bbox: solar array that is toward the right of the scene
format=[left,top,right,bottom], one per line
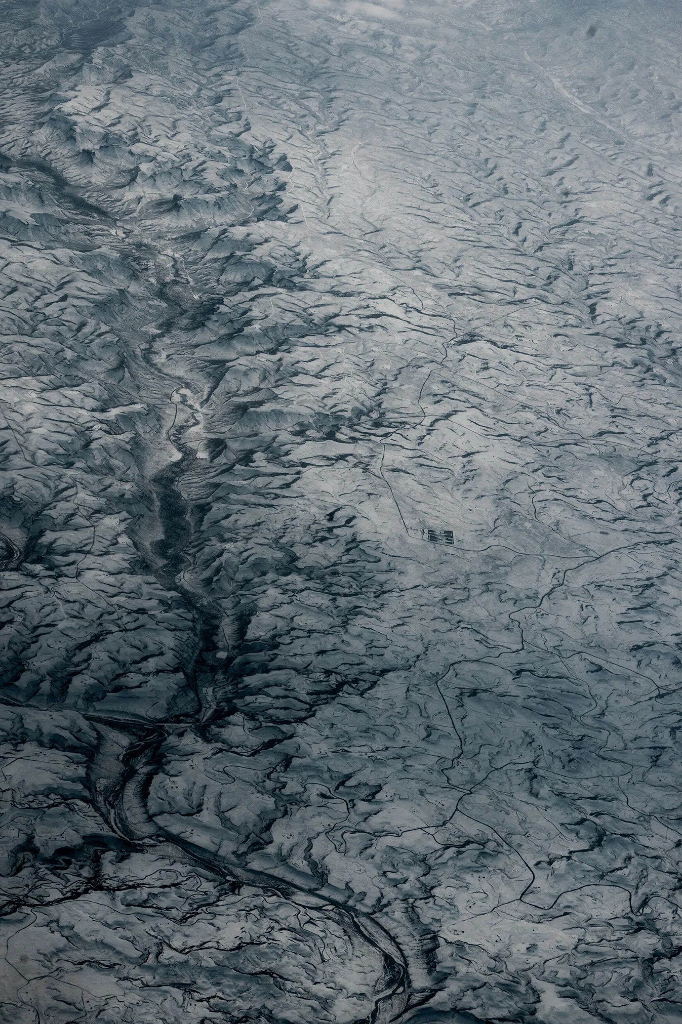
[428,529,454,546]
